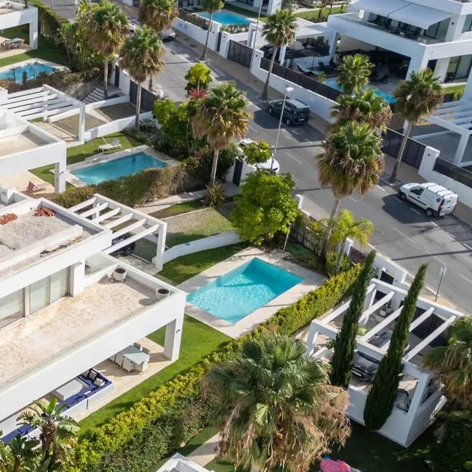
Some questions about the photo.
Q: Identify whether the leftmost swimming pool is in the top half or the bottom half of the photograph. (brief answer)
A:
top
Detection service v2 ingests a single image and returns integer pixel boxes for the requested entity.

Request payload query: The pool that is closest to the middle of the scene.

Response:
[174,245,330,335]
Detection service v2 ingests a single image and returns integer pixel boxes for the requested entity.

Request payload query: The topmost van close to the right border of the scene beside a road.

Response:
[393,179,454,216]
